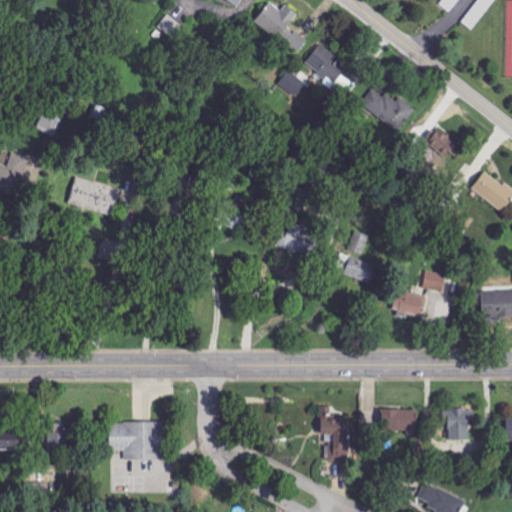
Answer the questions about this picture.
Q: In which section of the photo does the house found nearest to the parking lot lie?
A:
bottom left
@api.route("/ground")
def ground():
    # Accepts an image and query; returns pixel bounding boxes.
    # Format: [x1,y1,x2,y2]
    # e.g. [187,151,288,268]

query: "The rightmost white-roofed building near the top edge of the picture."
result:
[462,0,490,28]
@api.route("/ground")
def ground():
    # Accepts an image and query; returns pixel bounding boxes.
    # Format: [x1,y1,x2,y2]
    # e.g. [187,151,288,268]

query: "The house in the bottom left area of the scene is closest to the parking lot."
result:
[109,422,164,460]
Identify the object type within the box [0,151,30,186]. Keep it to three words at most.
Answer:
house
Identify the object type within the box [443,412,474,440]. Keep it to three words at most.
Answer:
house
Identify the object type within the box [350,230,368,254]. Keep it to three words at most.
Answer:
building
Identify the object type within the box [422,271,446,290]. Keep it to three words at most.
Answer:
building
